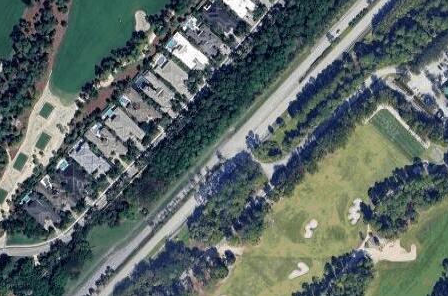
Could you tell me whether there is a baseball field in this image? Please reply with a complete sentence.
No, the picture doesn't show any baseball field.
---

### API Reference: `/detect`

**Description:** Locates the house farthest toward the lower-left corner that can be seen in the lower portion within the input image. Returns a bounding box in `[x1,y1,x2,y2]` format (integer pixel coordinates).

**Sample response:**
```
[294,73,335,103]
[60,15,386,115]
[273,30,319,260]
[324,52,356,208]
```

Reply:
[20,192,62,228]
